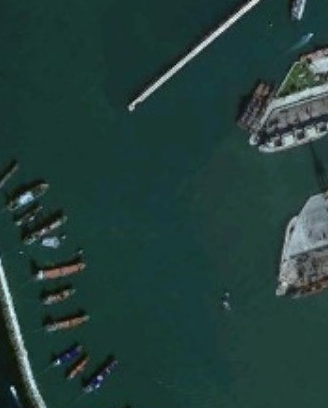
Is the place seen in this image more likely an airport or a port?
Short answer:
port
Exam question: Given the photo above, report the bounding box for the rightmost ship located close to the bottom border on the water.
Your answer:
[81,362,118,393]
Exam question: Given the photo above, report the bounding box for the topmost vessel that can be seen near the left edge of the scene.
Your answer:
[0,163,18,187]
